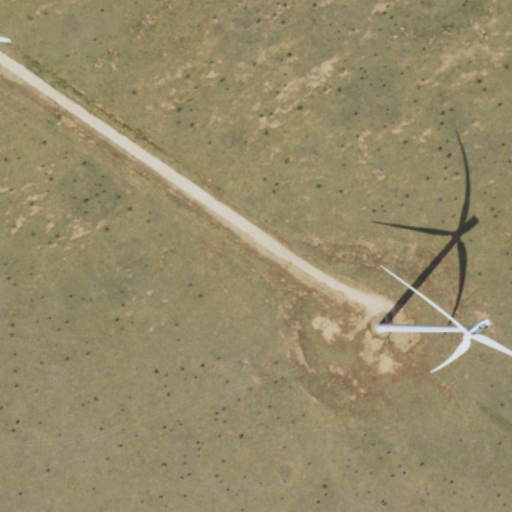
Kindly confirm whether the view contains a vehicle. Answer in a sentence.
No, I can see no vehicle in this picture.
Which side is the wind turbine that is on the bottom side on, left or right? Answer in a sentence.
It is on the right.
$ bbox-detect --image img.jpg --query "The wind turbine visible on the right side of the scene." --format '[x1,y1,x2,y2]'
[372,268,512,372]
